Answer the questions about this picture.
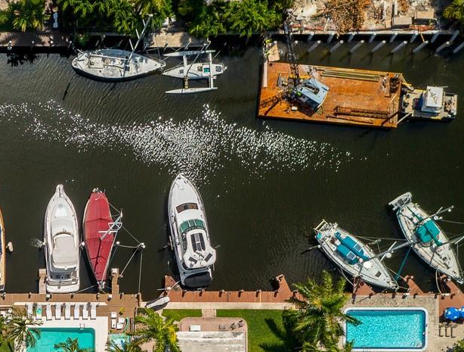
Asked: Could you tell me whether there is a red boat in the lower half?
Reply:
Yes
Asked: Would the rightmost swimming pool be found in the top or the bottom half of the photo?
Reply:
bottom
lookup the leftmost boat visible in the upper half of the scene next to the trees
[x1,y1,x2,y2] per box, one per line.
[72,14,165,84]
